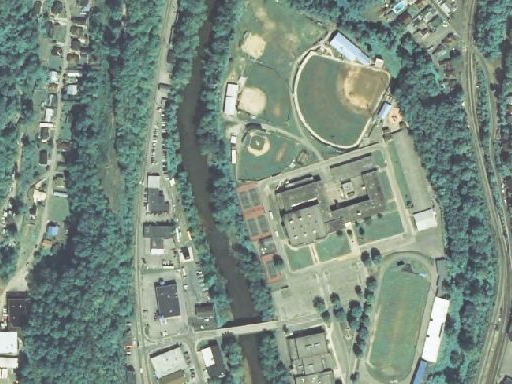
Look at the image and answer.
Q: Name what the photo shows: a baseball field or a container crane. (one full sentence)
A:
Looking from above, you can make out a baseball field.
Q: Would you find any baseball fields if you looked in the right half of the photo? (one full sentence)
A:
Yes, there is a baseball field in the right half of the photo.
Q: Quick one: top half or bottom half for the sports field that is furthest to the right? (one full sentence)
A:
Seen from above, the sports field that is furthest to the right lies in the bottom half of the view.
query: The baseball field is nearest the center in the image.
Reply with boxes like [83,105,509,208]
[238,121,303,181]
